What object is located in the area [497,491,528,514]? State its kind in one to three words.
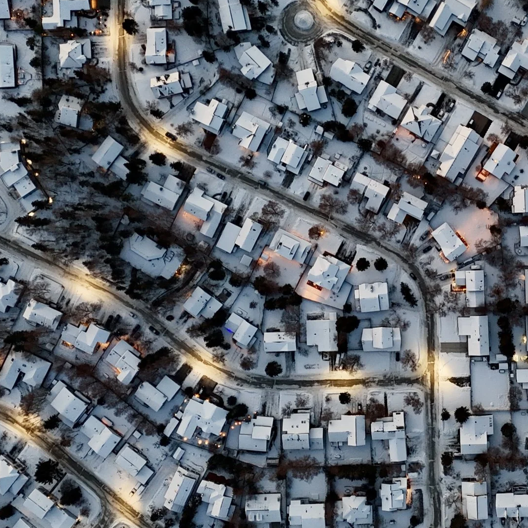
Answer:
house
